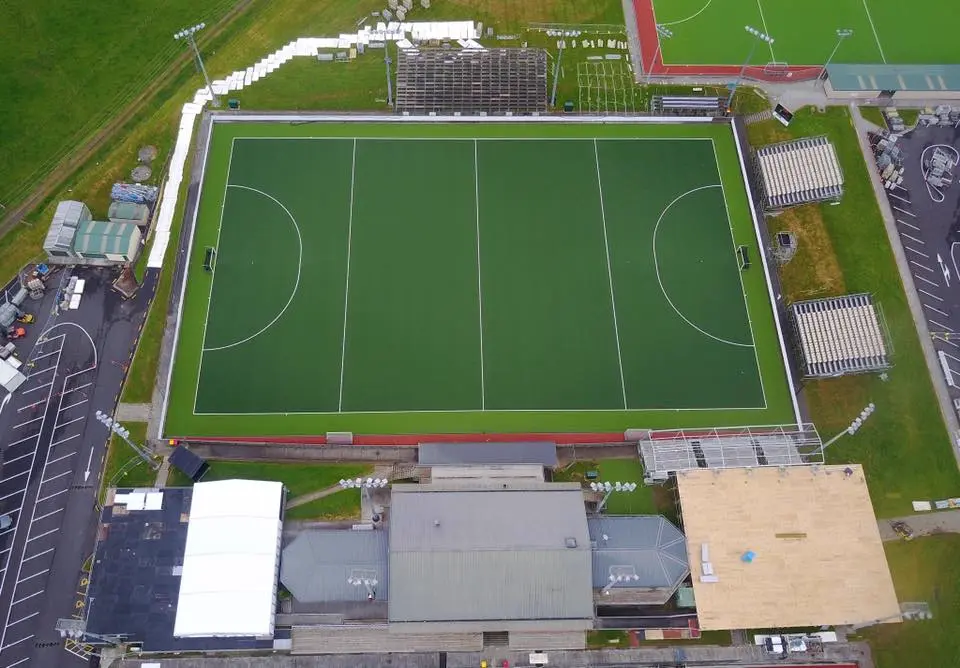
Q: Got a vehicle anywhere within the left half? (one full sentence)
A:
Yes, within the left half there is a vehicle.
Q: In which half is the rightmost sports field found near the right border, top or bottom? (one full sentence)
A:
The top half of the photo is where the rightmost sports field found near the right border is.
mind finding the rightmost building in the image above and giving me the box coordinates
[819,64,960,101]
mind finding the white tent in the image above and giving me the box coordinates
[172,479,291,640]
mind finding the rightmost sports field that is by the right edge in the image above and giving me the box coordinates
[634,0,960,80]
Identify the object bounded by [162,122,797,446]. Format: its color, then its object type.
green sports field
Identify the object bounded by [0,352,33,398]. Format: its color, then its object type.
white truck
